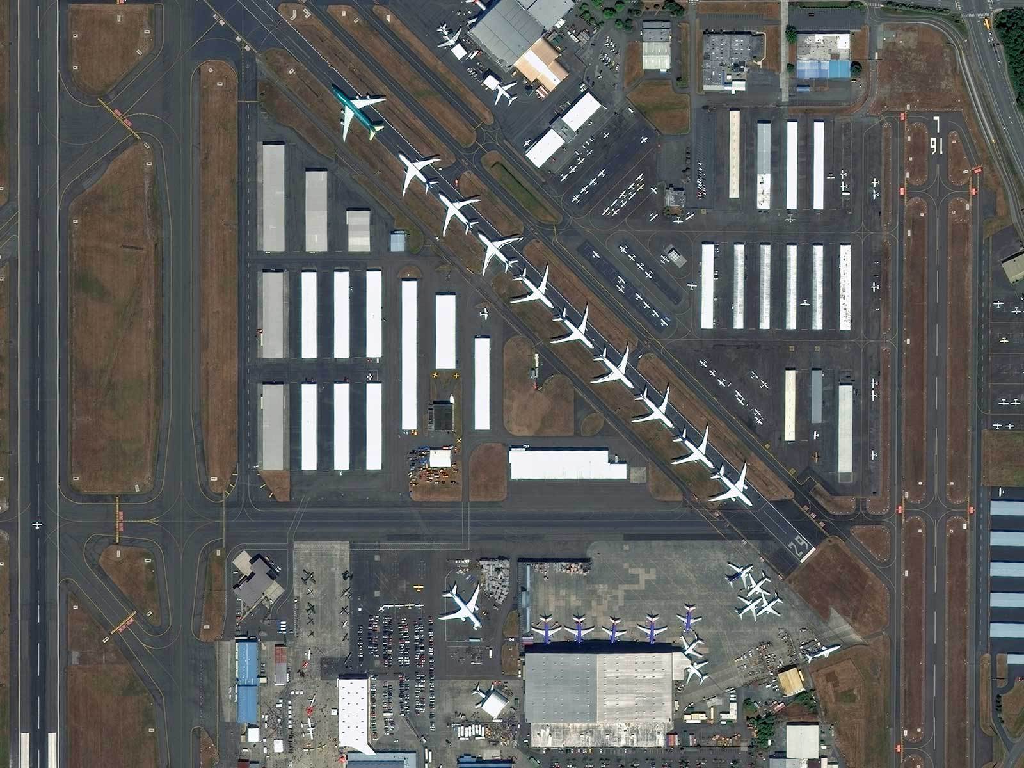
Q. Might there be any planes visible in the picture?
Yes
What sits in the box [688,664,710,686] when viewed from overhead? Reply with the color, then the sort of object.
white airplane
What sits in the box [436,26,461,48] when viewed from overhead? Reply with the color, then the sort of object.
white airplane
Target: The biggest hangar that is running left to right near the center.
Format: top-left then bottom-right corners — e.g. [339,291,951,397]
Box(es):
[509,451,627,479]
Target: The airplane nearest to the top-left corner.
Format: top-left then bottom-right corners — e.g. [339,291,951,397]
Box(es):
[332,86,386,141]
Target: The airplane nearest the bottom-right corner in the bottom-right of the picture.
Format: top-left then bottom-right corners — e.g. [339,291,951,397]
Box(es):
[809,646,841,664]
